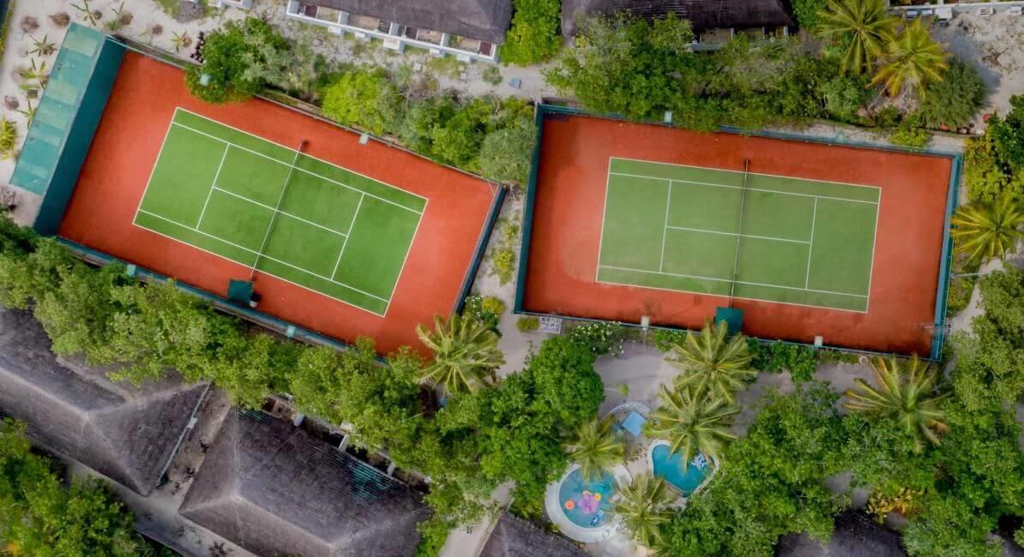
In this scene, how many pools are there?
2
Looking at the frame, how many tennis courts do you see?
2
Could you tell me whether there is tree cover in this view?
Yes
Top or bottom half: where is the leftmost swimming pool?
bottom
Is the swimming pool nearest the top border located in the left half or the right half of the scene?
right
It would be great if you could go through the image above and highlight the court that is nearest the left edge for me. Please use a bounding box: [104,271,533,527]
[58,49,496,376]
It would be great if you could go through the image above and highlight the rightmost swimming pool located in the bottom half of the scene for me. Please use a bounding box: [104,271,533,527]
[649,439,717,500]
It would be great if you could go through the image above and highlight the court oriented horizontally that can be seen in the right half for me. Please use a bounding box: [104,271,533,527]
[524,114,951,355]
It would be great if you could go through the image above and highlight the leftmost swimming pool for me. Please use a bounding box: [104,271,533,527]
[545,461,625,543]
